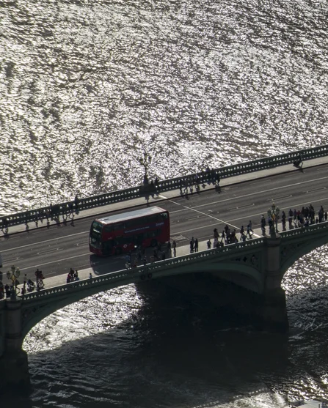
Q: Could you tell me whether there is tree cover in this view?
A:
No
